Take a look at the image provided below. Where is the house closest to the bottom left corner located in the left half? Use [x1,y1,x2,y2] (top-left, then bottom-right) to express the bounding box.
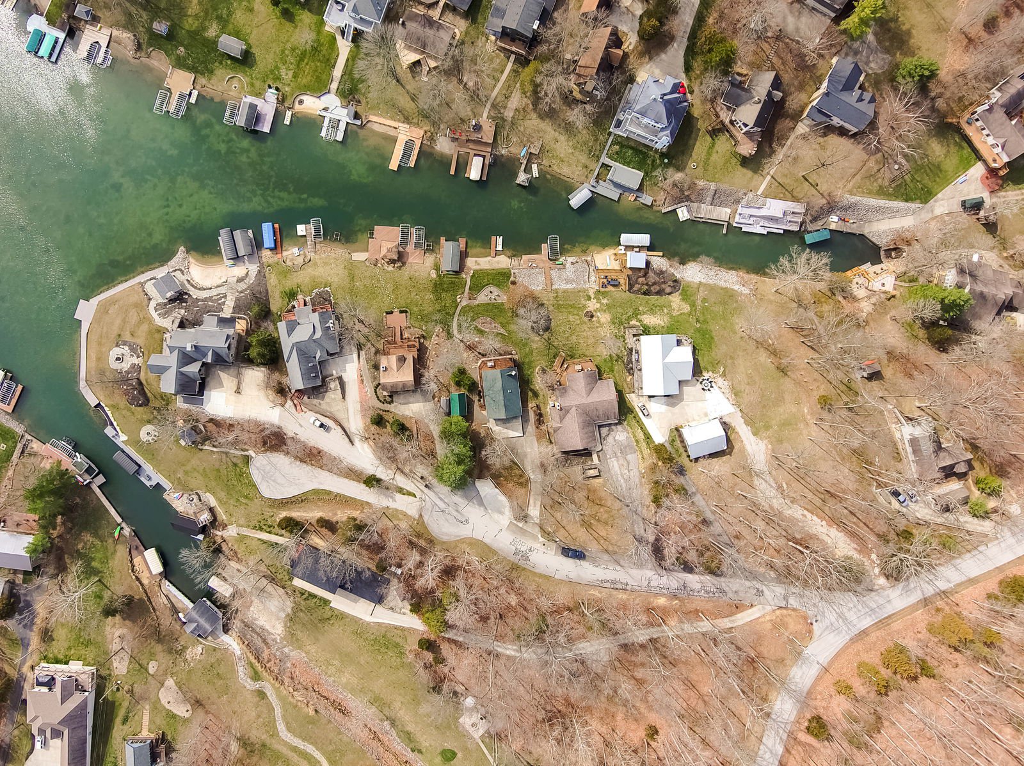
[26,658,103,766]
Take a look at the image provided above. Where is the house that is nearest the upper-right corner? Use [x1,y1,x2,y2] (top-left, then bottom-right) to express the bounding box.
[942,75,1024,177]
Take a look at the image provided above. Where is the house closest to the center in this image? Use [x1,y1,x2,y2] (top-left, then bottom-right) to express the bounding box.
[478,355,524,436]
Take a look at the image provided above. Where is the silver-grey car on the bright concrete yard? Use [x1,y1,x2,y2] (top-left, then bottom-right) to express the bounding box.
[636,401,652,418]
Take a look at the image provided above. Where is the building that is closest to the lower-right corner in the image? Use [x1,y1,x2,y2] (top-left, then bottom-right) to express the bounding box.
[927,486,970,511]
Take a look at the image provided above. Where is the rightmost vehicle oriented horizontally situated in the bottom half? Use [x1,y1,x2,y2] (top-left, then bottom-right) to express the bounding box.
[561,548,587,561]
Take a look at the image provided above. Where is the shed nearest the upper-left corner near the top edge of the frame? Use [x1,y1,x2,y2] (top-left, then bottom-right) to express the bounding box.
[73,3,97,24]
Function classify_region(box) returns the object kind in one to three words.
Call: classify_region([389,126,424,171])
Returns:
pier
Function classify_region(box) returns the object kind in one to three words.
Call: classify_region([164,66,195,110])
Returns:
pier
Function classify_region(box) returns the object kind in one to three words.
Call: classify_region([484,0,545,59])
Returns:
house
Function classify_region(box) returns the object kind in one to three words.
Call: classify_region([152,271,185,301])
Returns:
building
